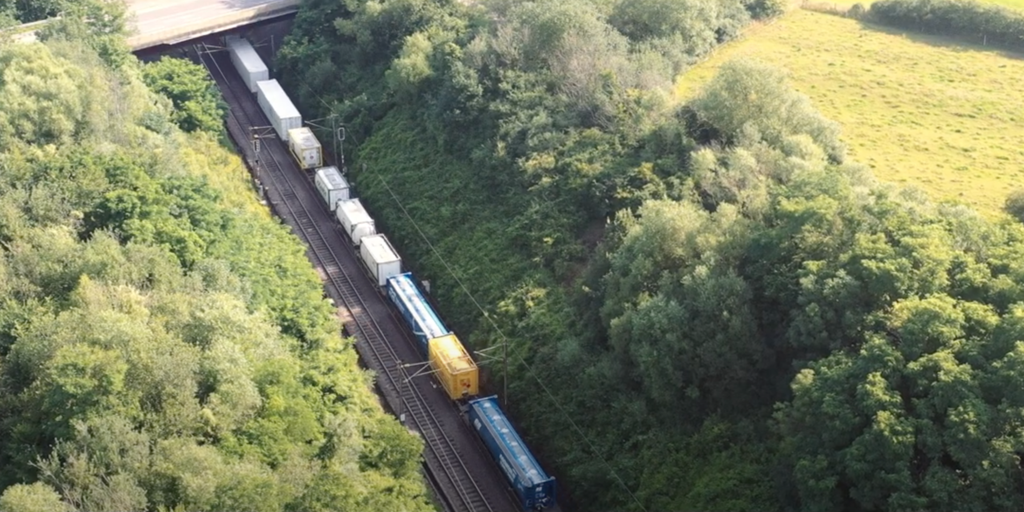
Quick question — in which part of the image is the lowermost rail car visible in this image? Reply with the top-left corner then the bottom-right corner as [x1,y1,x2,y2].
[461,407,560,512]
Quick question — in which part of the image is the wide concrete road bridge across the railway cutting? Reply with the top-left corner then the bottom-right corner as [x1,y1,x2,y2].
[105,0,322,63]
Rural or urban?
rural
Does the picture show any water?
No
